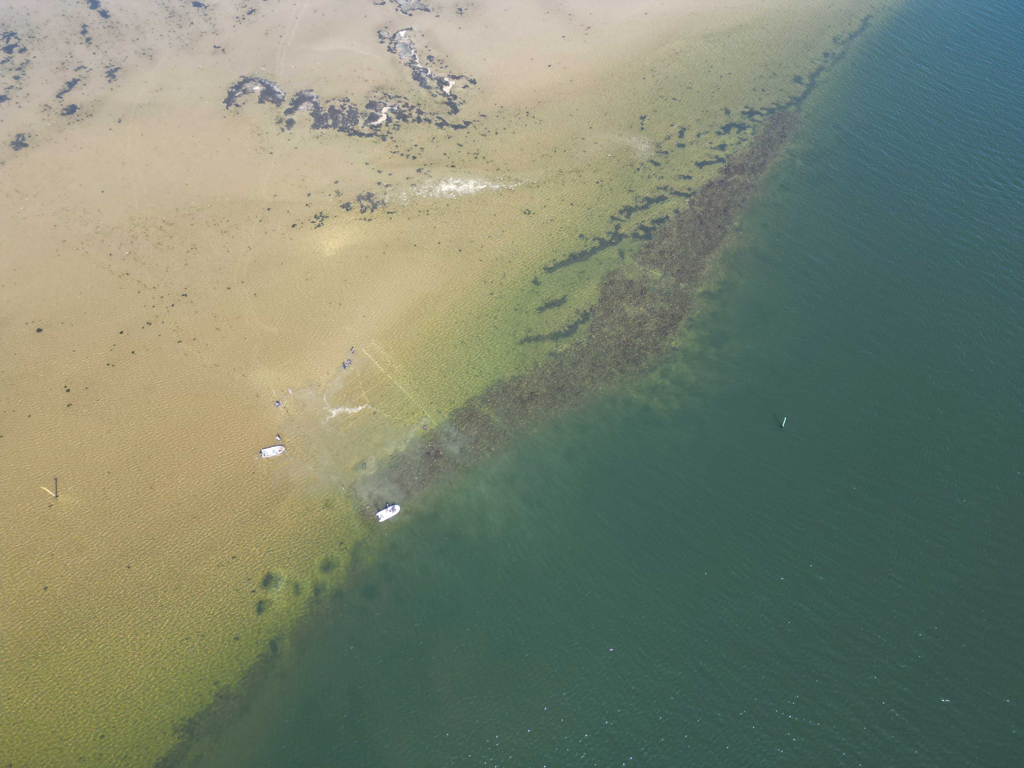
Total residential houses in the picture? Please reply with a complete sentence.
There are no residential houses in this view.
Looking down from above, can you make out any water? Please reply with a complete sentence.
Yes, water shows up in the scene.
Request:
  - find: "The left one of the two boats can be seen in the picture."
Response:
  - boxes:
[259,446,285,458]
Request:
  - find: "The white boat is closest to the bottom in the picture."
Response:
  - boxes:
[376,506,401,521]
